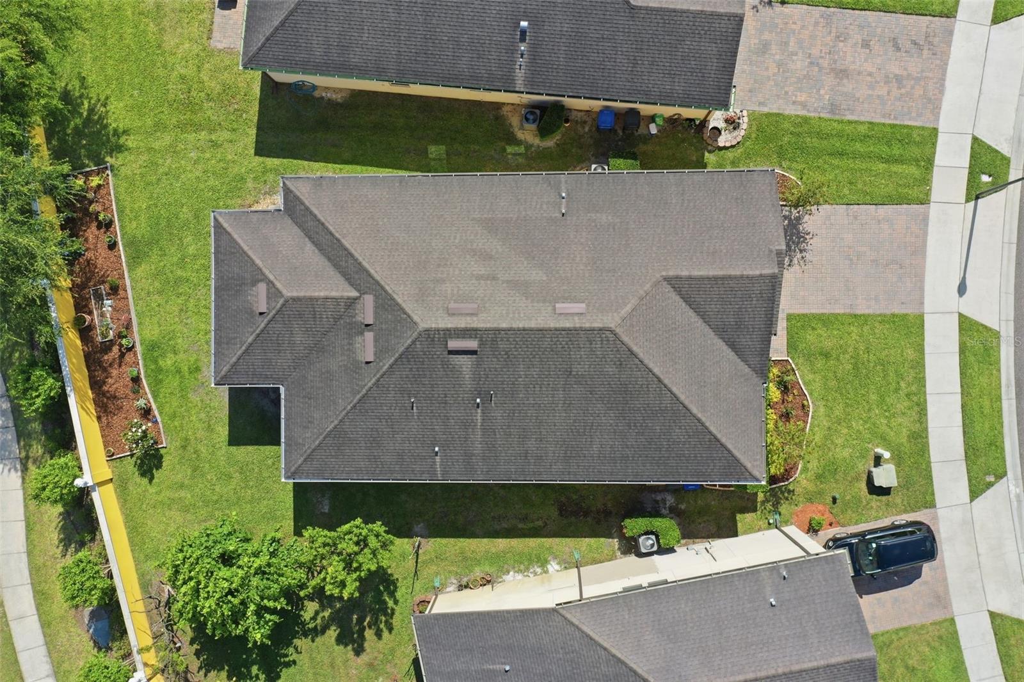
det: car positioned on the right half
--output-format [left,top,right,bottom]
[821,519,940,583]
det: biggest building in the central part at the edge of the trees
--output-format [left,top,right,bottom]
[209,169,788,484]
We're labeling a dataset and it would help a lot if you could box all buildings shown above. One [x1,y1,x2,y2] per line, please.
[239,0,750,118]
[409,526,883,682]
[209,169,788,484]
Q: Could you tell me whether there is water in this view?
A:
No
